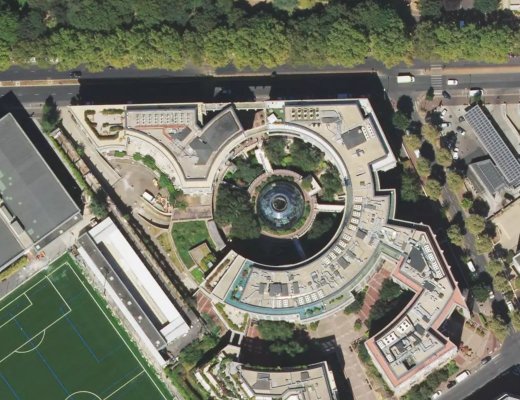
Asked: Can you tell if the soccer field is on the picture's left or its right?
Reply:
left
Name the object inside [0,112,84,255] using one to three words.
building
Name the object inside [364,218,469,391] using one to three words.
building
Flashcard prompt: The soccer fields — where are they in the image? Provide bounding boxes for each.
[0,251,172,400]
